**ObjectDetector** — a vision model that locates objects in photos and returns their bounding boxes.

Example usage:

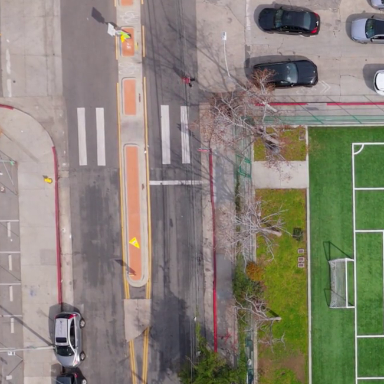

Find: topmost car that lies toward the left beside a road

[52,312,87,367]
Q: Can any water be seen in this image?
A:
No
